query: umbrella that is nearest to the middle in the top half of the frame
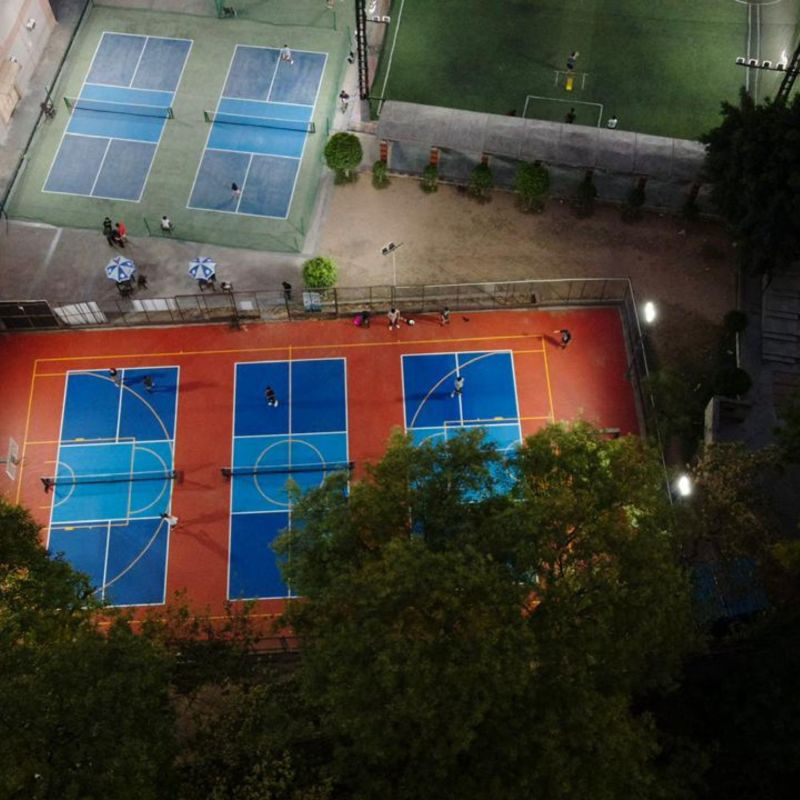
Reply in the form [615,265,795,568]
[191,258,217,282]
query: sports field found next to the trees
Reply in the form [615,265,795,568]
[370,0,800,149]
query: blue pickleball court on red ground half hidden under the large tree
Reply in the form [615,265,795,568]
[401,349,527,583]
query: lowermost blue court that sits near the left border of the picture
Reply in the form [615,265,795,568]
[40,365,180,609]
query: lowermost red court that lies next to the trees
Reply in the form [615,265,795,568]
[0,307,648,661]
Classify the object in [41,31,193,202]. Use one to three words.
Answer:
sports court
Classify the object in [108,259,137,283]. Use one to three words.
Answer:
umbrella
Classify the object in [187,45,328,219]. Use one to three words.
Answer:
sports court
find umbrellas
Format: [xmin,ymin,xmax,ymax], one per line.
[191,258,217,282]
[108,259,137,283]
